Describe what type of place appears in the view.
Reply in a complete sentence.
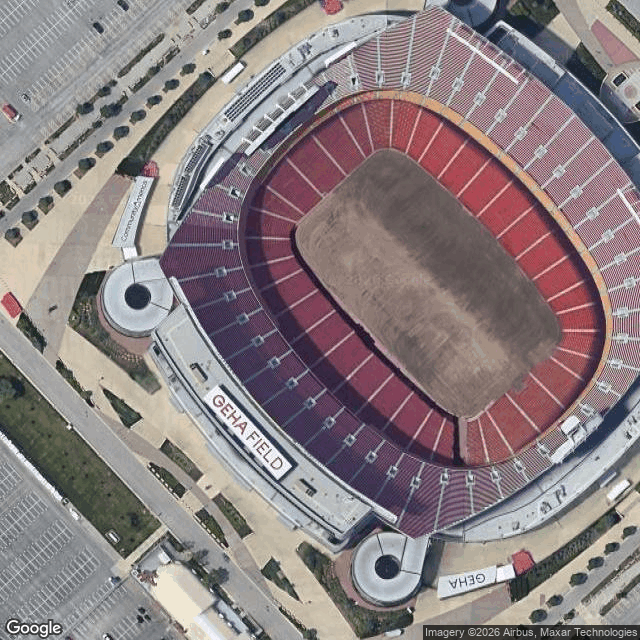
The picture captures a sports ground.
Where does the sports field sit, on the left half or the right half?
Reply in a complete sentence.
The sports field sits on the right side.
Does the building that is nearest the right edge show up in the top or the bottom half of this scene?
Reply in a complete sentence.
Seen from above, the building that is nearest the right edge lies in the top half of the view.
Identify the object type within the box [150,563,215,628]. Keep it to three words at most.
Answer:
building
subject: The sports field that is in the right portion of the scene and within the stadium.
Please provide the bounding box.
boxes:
[294,147,561,419]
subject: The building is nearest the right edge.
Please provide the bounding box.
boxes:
[601,60,640,125]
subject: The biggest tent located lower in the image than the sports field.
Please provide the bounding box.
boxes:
[512,550,535,575]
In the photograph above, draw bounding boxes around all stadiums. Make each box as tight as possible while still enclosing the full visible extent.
[146,4,640,553]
